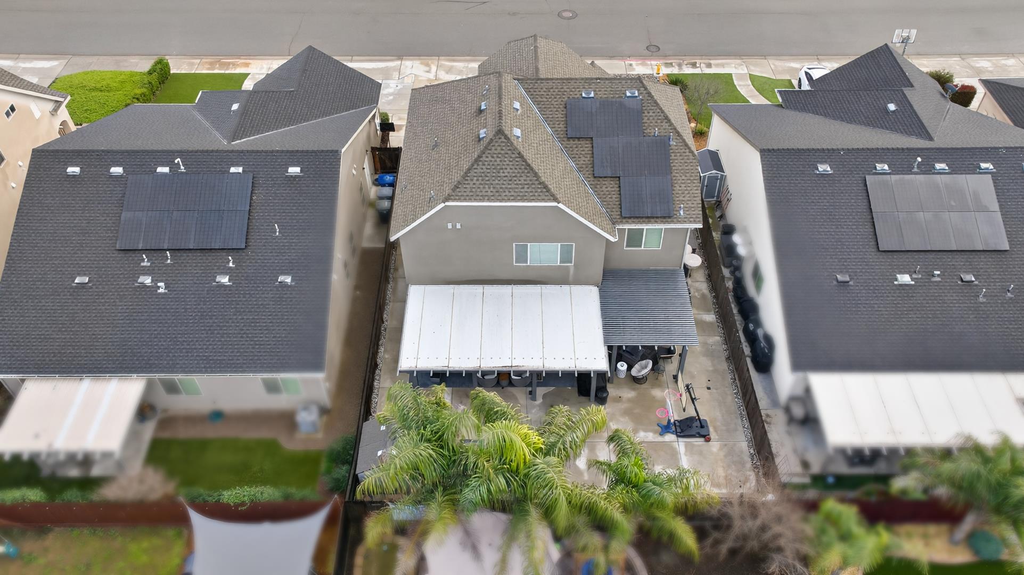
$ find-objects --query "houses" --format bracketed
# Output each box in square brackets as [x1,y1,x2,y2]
[0,45,385,407]
[386,34,703,289]
[707,45,1024,407]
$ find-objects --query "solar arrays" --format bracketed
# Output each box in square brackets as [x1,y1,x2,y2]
[567,98,678,216]
[867,174,1010,250]
[112,173,252,248]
